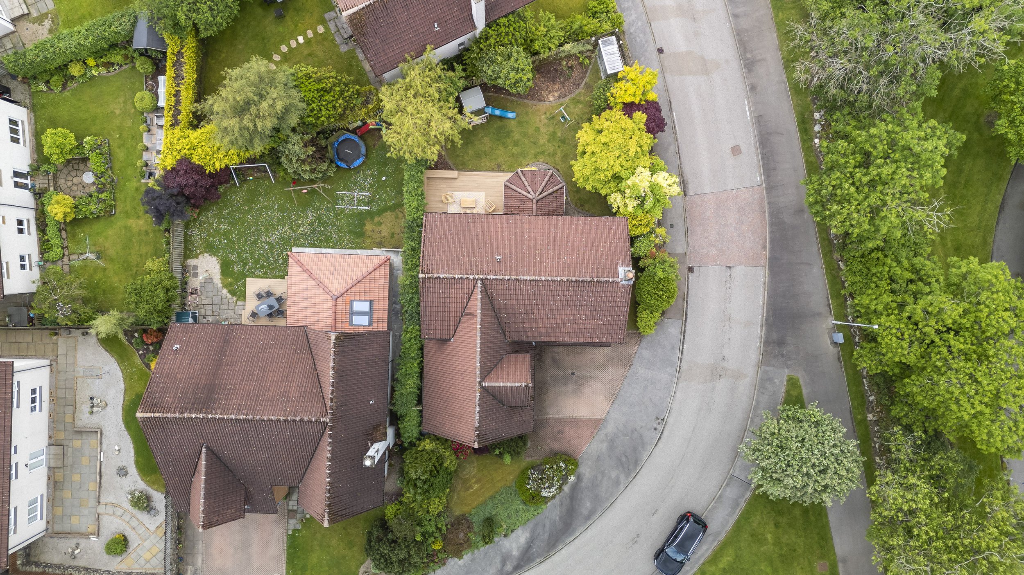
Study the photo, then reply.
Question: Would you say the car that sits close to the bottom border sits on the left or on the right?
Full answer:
You can find the car that sits close to the bottom border on the right side of the picture.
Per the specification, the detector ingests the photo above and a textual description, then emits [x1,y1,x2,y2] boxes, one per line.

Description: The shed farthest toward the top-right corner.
[591,39,623,86]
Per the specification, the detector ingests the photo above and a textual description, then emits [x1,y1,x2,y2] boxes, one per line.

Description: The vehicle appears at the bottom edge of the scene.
[657,510,709,575]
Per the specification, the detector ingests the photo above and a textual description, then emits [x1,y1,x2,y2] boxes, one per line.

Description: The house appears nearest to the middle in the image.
[416,168,634,447]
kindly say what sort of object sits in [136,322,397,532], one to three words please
house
